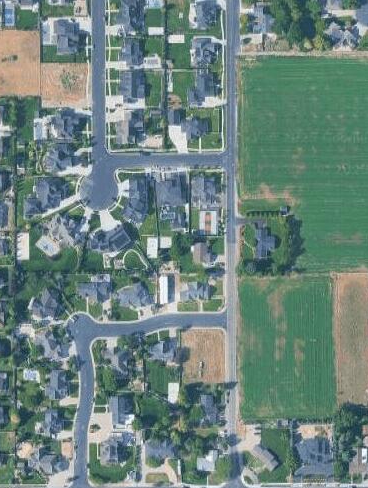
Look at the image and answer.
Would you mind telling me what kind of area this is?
residential area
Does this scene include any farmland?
Yes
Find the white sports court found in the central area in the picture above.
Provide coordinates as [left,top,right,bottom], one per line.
[200,211,218,235]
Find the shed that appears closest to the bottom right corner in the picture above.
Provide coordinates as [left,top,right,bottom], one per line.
[349,448,368,474]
